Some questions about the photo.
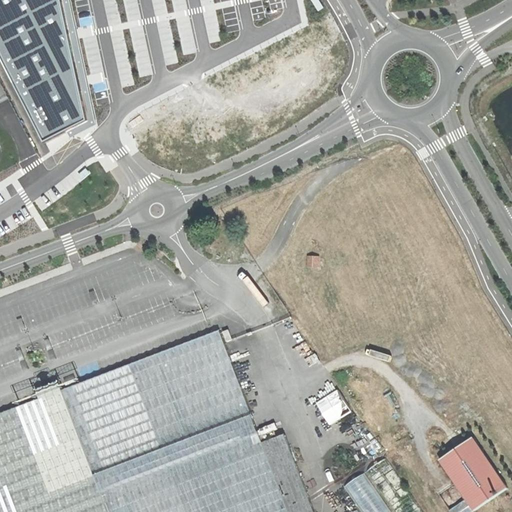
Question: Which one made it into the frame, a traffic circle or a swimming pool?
traffic circle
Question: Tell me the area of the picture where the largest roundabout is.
top right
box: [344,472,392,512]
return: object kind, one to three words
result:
greenhouse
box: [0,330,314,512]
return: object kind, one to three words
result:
building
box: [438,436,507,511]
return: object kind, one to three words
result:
house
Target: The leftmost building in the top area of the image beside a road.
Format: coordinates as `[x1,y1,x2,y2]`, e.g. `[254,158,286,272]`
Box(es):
[0,0,84,138]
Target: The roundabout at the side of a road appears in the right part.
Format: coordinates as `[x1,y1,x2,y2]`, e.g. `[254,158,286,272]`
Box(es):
[362,28,460,127]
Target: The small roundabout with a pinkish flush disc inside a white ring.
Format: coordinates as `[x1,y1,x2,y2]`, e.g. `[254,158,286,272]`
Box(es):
[136,190,178,231]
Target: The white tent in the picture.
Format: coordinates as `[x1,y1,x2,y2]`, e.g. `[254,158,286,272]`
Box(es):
[316,390,351,425]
